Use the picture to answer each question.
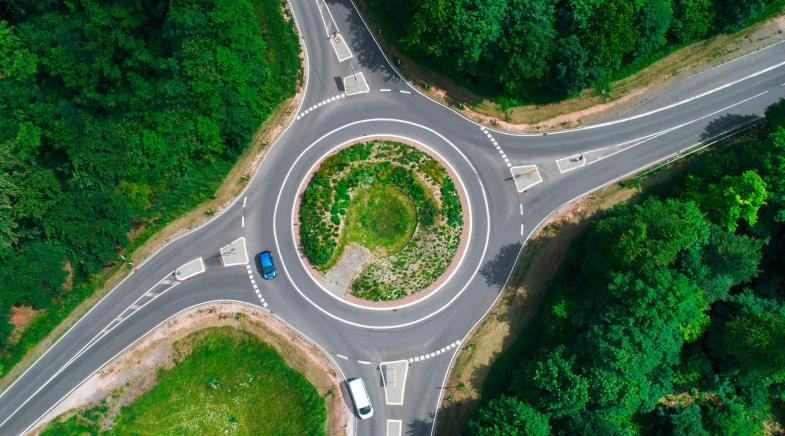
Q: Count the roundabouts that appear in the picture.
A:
1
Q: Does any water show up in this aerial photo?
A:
No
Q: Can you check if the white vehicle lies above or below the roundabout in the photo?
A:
below it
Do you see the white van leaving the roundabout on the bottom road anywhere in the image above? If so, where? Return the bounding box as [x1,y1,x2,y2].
[349,377,373,421]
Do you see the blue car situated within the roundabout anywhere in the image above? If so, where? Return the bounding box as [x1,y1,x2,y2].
[259,249,276,279]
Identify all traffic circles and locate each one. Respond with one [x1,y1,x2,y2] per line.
[242,58,521,362]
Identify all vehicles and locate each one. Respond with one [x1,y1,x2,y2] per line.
[259,249,276,279]
[349,377,373,421]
